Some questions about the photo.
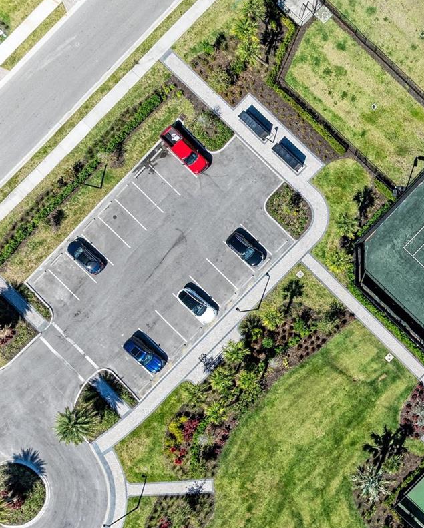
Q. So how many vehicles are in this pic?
5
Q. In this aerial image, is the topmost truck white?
No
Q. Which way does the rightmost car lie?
at an angle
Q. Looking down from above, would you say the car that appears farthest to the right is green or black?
black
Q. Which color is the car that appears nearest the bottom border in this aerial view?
blue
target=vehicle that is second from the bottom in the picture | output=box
[175,286,214,325]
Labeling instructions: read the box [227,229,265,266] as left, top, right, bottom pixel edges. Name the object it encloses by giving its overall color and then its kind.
black car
